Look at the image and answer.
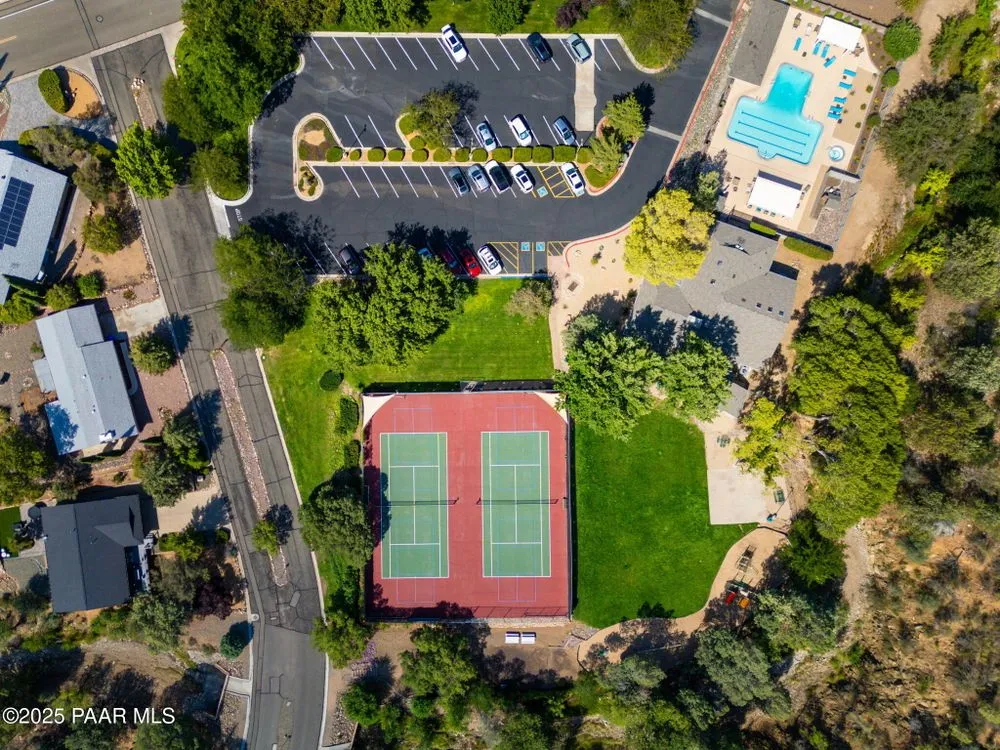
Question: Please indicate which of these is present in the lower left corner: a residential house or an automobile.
residential house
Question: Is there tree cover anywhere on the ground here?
Yes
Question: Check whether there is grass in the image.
Yes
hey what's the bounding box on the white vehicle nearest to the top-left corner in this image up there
[441,23,465,59]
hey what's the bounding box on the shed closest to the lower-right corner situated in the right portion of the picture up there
[717,385,748,417]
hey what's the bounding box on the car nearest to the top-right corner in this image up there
[569,33,590,63]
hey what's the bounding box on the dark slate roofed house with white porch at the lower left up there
[41,495,150,613]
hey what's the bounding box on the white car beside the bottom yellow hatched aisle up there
[479,243,500,273]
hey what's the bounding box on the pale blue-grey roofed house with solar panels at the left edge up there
[0,150,74,296]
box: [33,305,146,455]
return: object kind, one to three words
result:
house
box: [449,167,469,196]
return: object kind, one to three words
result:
car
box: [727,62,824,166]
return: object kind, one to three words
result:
swimming pool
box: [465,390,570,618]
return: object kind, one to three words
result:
tennis court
